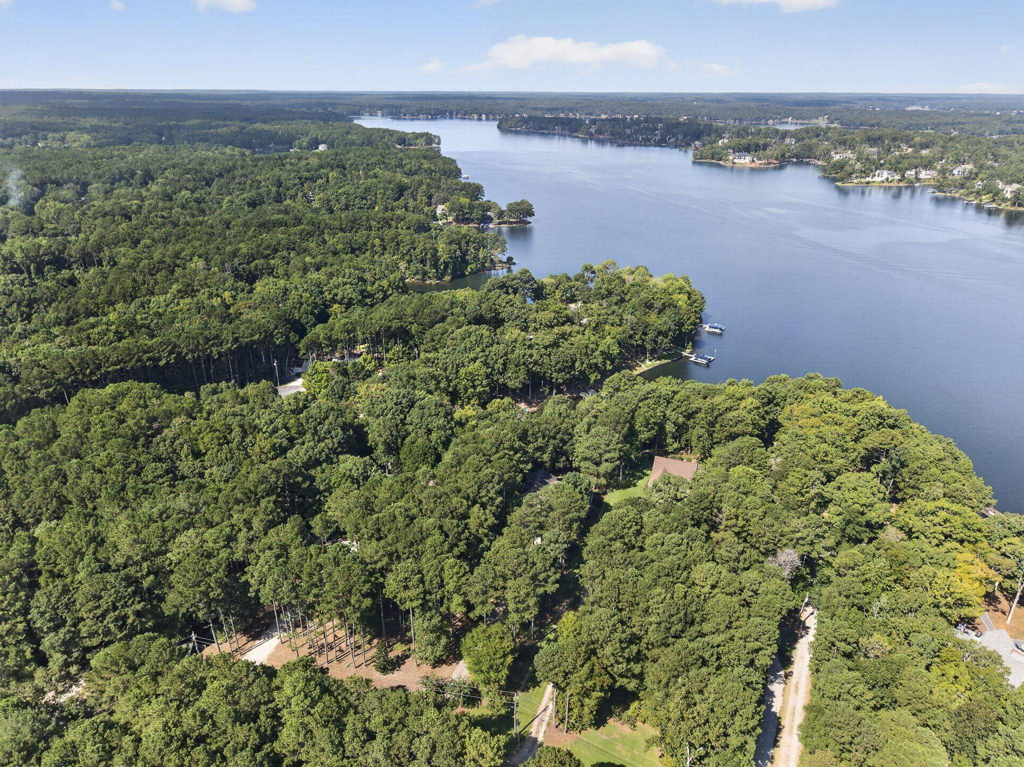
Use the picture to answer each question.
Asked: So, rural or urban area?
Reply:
rural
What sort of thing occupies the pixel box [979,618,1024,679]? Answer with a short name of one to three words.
house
